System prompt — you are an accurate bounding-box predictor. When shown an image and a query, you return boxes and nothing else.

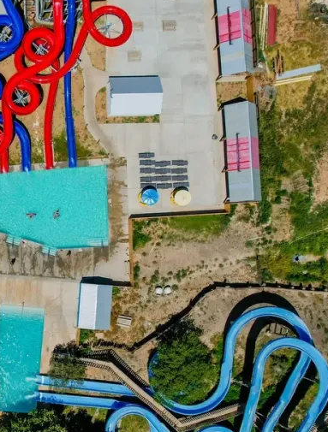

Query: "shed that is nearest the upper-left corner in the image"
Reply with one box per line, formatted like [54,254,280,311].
[106,76,162,118]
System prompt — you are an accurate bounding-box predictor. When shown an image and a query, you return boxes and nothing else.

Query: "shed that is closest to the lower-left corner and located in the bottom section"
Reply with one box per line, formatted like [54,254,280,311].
[76,283,112,330]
